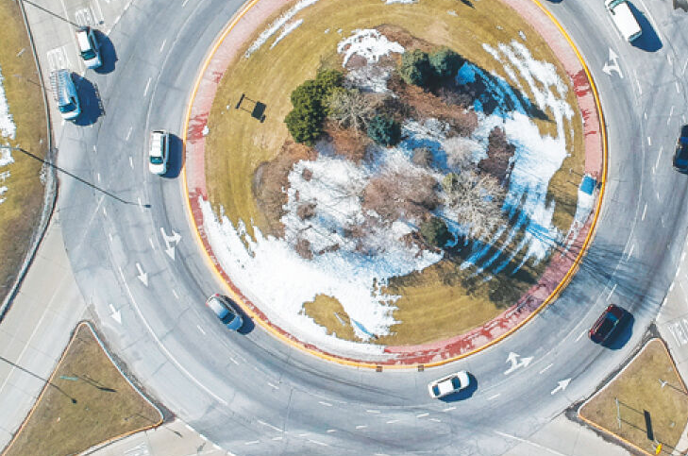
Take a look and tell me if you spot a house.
No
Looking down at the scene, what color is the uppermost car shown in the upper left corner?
white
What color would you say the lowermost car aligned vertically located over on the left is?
white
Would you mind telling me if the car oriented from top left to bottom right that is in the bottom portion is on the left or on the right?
left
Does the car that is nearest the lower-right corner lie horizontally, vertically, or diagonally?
diagonally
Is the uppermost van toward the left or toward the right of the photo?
right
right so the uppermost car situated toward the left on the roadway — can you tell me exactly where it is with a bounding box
[73,24,102,70]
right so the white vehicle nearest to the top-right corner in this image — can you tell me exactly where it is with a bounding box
[606,0,643,42]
